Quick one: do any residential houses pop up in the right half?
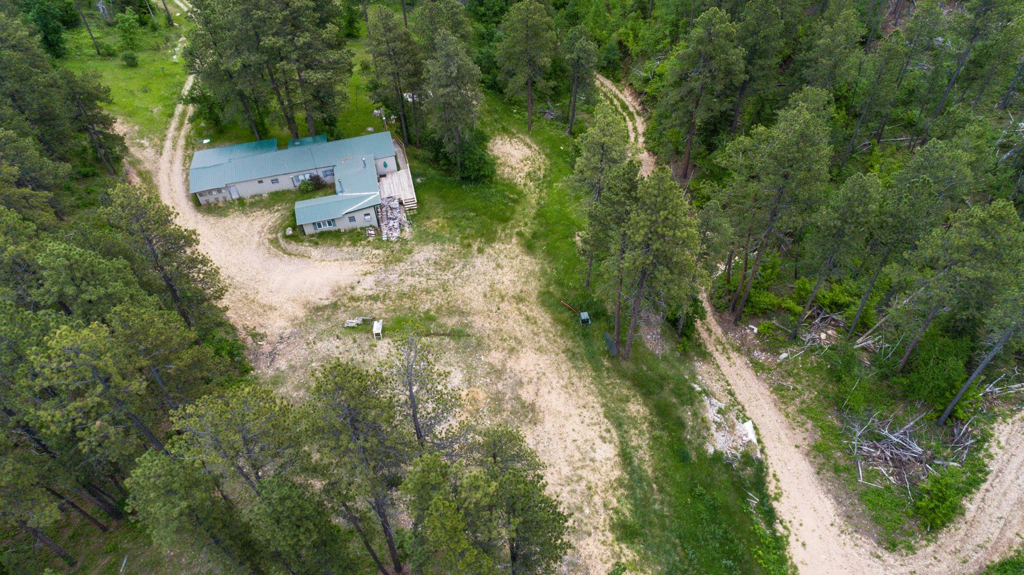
No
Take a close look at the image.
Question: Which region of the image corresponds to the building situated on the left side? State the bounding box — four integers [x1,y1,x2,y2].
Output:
[189,131,396,236]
